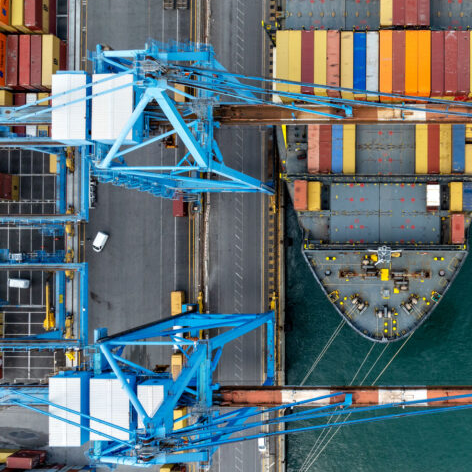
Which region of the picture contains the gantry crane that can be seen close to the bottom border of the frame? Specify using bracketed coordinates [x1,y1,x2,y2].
[0,286,472,472]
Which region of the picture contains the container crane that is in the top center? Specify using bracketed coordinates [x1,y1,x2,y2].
[0,40,472,215]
